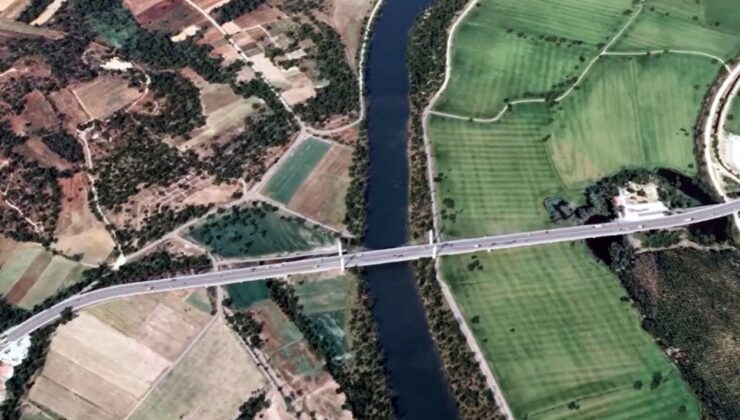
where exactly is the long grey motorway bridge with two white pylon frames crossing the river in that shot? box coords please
[0,196,740,353]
